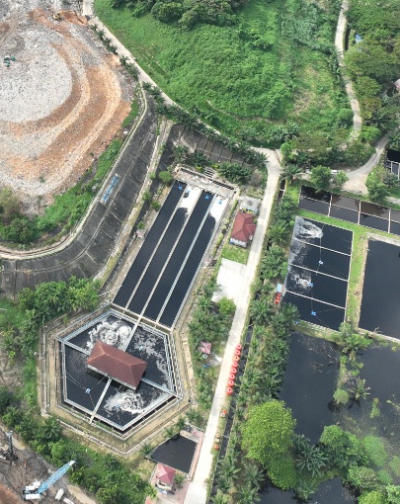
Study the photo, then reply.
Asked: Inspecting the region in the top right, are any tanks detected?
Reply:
No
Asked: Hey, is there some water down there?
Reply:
Yes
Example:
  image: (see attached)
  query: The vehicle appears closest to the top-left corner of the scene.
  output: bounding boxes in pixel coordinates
[51,5,82,19]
